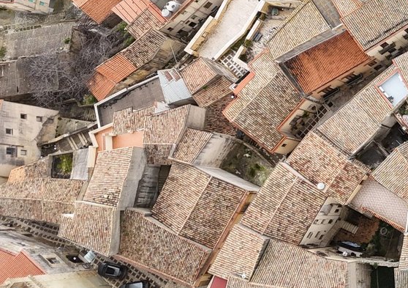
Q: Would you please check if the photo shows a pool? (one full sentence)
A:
No, I can see no pool in this picture.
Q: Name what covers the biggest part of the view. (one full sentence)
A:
For the most part, this view shows buildings.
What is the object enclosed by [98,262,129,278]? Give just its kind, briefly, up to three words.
car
